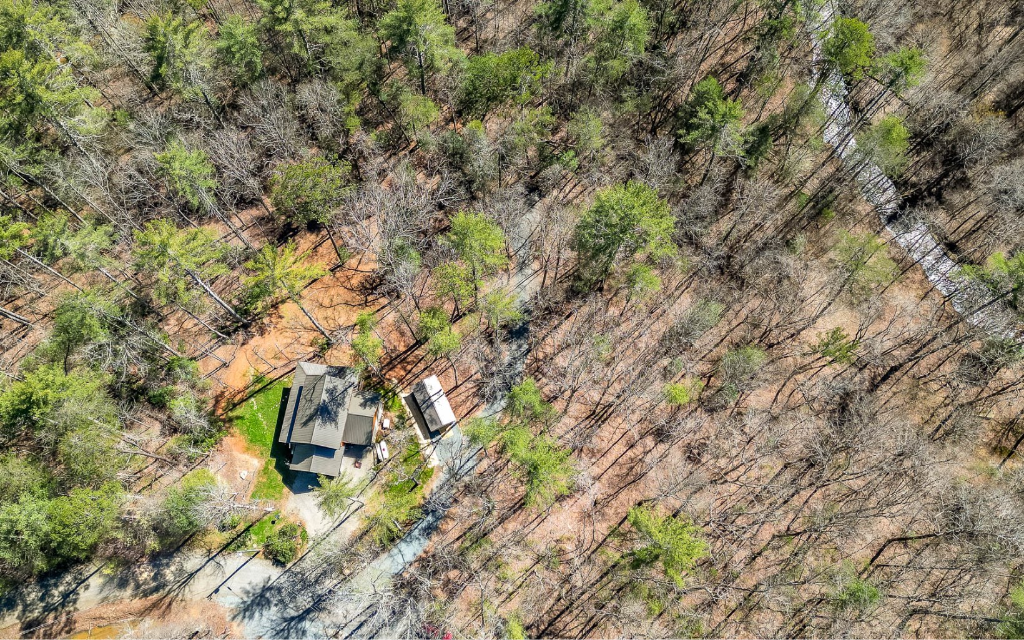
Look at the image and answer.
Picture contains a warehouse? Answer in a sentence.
No, the photo shows no warehouse.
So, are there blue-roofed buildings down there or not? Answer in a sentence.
No, there is no blue-roofed building in the image.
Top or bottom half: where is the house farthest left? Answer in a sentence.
Seen from above, the house farthest left lies in the bottom half of the view.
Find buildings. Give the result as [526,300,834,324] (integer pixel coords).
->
[405,376,456,445]
[279,360,381,477]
